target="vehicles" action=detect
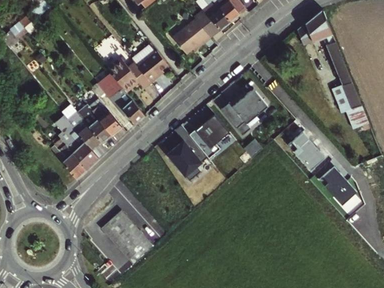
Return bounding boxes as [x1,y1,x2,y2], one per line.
[232,64,245,76]
[70,190,80,200]
[66,240,71,251]
[20,282,32,288]
[43,278,54,283]
[51,215,61,224]
[2,186,10,198]
[56,201,66,210]
[32,202,42,210]
[266,18,276,27]
[246,78,256,88]
[348,214,360,222]
[220,75,230,84]
[106,139,116,148]
[314,60,322,70]
[150,108,160,118]
[195,66,205,76]
[6,228,13,239]
[208,86,218,96]
[144,226,155,238]
[6,201,12,212]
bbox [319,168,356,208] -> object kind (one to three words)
house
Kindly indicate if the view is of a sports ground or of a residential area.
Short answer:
residential area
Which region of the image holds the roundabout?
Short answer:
bottom left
